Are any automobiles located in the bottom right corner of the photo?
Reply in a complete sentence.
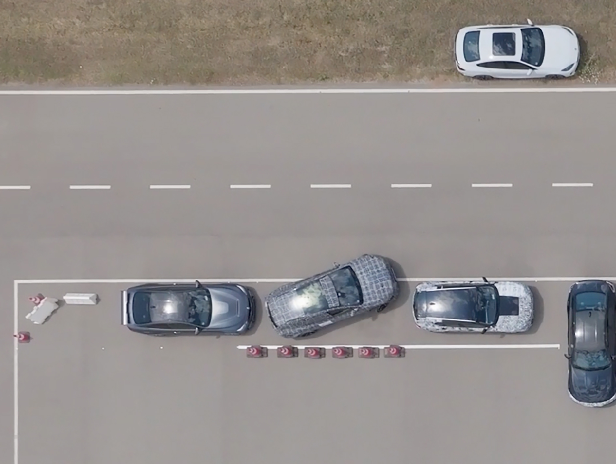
Yes, an automobile appears in the bottom right corner of the photo.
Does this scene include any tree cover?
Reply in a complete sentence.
No, no tree cover is visible.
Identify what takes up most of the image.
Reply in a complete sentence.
What you mostly see from above here is paved ground.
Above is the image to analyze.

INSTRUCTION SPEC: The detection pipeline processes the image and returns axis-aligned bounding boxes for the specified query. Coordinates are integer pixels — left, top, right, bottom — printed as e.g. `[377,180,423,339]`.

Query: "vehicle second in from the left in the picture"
[264,254,401,339]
